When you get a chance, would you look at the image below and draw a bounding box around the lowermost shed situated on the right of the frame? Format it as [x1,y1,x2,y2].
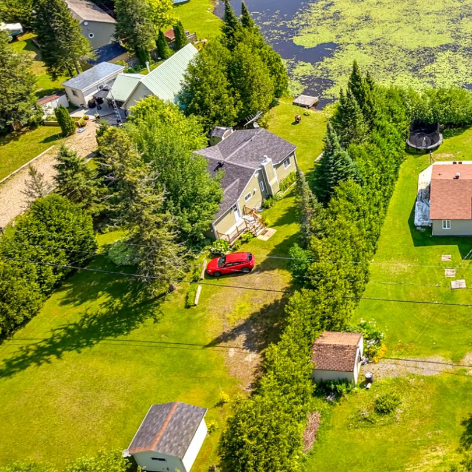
[309,334,365,386]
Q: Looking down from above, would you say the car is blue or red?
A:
red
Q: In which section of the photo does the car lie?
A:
center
